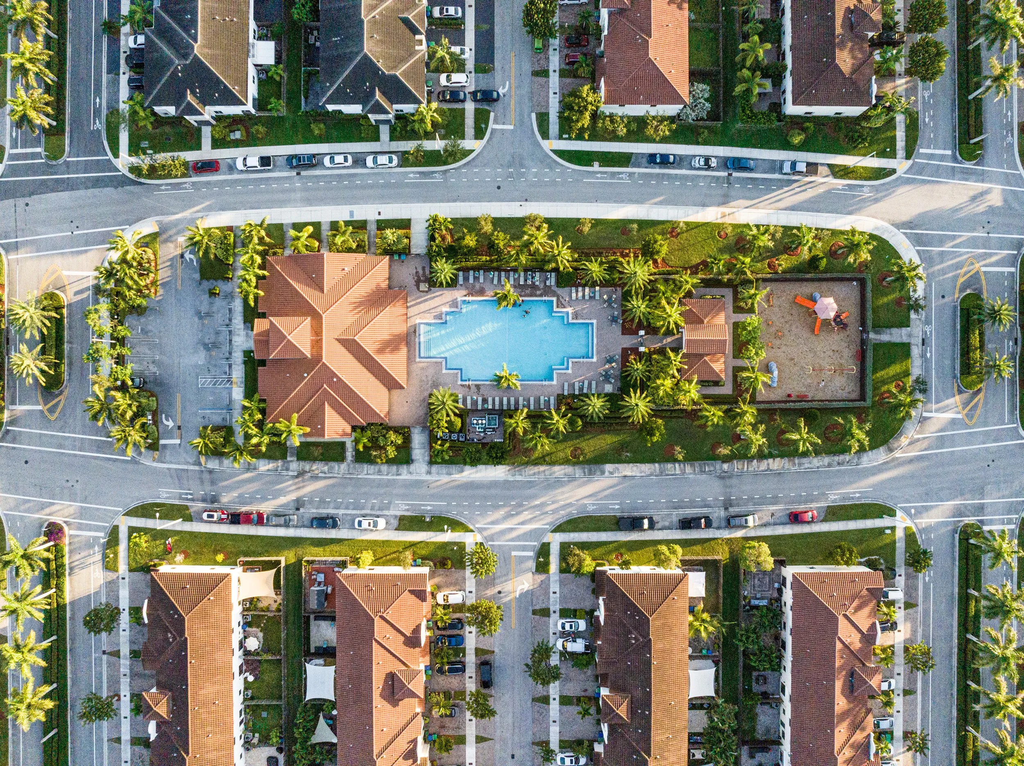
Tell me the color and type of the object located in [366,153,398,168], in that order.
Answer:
white car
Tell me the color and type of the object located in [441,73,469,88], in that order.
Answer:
white car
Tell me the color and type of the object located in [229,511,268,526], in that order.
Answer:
red vehicle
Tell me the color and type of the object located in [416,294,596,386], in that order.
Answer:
blue swimming pool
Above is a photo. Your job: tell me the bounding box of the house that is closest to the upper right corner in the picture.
[781,0,883,116]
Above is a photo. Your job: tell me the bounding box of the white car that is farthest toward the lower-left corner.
[203,509,230,522]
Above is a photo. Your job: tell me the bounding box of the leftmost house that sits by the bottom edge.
[141,565,244,766]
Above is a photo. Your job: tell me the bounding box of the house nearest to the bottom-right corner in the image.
[781,566,883,766]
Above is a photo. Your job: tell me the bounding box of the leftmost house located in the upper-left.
[144,0,260,125]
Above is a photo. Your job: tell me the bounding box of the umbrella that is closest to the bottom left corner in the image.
[244,637,260,652]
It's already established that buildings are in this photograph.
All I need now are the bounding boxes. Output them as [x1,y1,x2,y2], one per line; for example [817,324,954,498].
[318,0,426,123]
[335,567,431,766]
[680,298,731,381]
[251,249,408,438]
[595,0,689,115]
[144,0,260,125]
[593,567,689,766]
[781,0,883,116]
[141,565,244,766]
[781,566,883,766]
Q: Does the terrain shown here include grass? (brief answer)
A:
Yes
